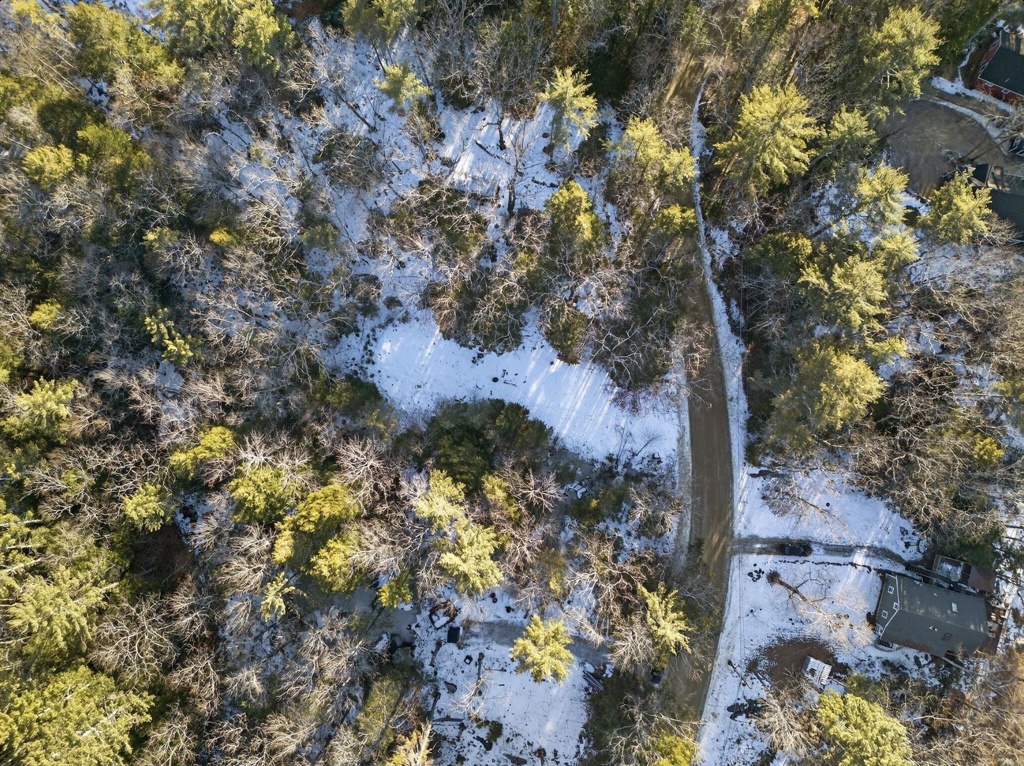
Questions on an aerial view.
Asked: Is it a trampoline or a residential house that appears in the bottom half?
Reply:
residential house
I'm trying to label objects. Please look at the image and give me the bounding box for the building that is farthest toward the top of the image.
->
[960,28,1024,117]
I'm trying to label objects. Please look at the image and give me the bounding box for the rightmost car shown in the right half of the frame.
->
[780,541,811,556]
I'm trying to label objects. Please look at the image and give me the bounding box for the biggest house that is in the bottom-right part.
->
[871,552,1014,665]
